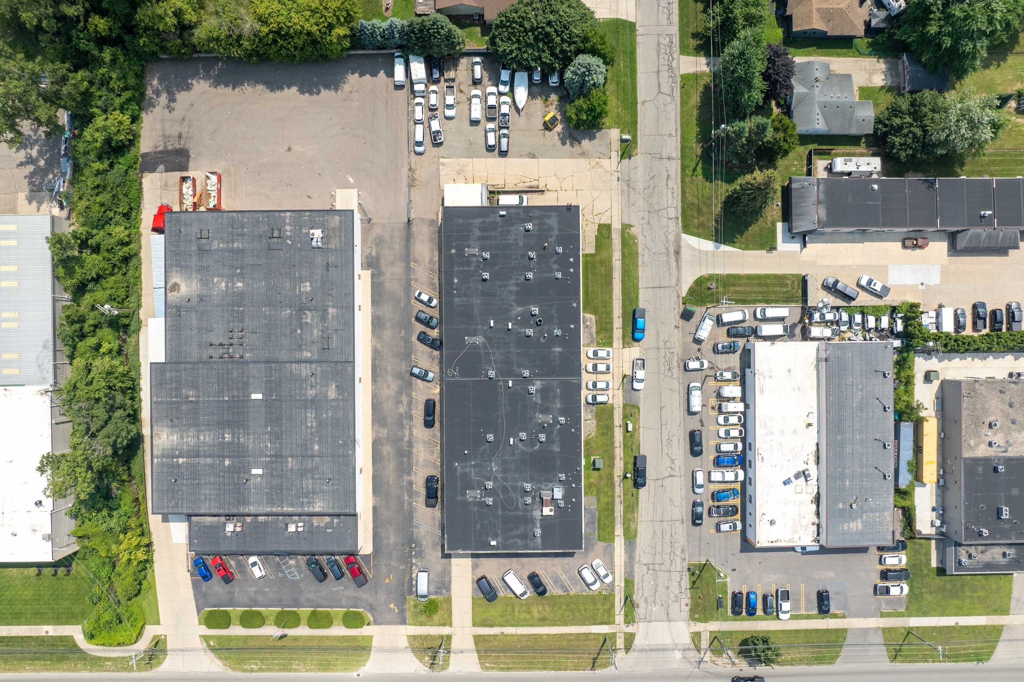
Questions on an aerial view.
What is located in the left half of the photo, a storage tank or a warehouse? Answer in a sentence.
The feature located in the left half of the photo is a warehouse.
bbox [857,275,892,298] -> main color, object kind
white truck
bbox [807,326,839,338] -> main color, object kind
white vehicle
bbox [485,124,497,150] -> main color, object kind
white vehicle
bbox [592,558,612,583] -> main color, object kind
white car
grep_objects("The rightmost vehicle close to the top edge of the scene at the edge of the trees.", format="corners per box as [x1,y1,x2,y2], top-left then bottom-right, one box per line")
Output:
[872,0,910,29]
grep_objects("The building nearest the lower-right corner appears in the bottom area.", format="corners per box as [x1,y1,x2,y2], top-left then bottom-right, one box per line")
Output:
[917,378,1024,575]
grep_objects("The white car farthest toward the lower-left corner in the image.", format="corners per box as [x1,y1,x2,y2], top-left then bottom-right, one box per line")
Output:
[248,555,266,581]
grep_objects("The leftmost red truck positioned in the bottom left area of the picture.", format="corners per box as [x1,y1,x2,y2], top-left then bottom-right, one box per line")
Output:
[211,555,235,586]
